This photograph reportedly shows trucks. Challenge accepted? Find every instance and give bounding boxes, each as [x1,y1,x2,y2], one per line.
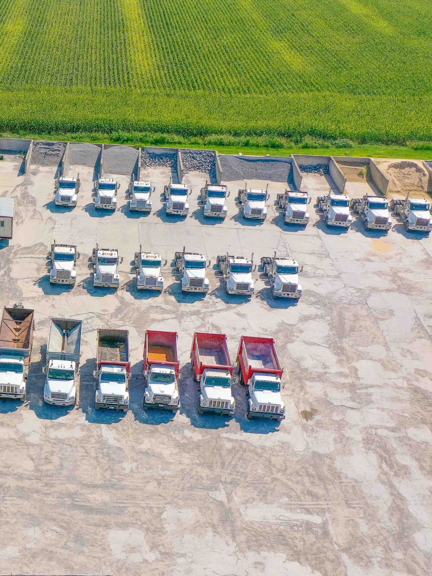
[313,188,354,227]
[197,179,229,216]
[261,252,305,298]
[389,193,432,232]
[190,330,239,414]
[49,239,79,283]
[177,246,212,293]
[235,181,269,218]
[42,318,81,405]
[217,248,257,295]
[127,175,155,211]
[274,186,312,223]
[235,333,288,419]
[55,169,80,205]
[351,190,393,230]
[94,172,120,209]
[141,328,184,411]
[134,244,168,290]
[162,178,192,214]
[91,243,123,287]
[0,304,35,399]
[95,327,134,410]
